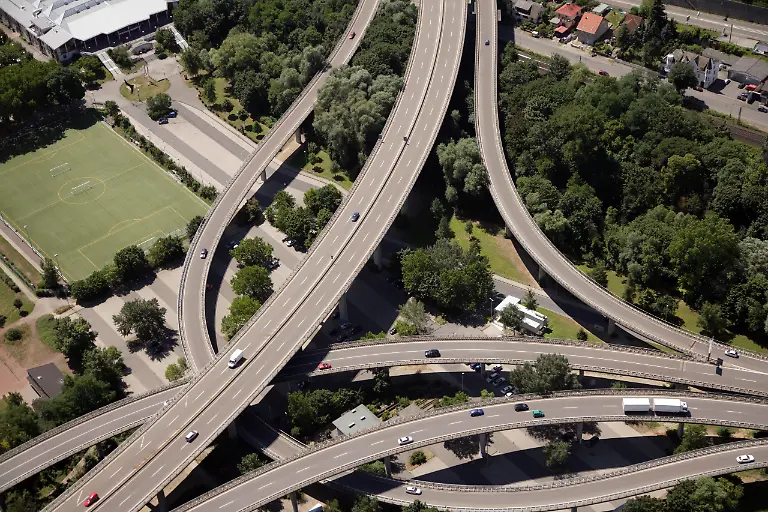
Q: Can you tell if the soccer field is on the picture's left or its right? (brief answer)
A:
left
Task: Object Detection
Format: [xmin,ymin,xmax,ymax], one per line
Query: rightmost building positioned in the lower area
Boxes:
[494,295,547,335]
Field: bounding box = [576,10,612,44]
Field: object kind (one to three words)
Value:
house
